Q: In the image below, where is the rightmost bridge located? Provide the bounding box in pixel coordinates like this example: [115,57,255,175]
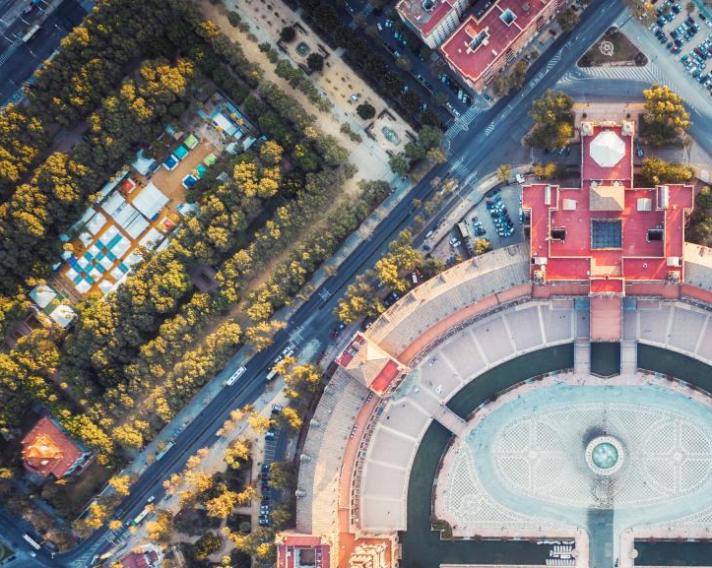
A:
[621,337,637,371]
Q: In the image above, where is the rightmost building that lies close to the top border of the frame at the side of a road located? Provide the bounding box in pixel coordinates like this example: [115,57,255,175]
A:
[440,0,568,92]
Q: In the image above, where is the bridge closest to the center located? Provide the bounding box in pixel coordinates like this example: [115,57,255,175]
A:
[430,401,469,438]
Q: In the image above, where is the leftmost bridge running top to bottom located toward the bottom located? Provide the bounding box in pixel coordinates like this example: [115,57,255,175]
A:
[575,337,591,371]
